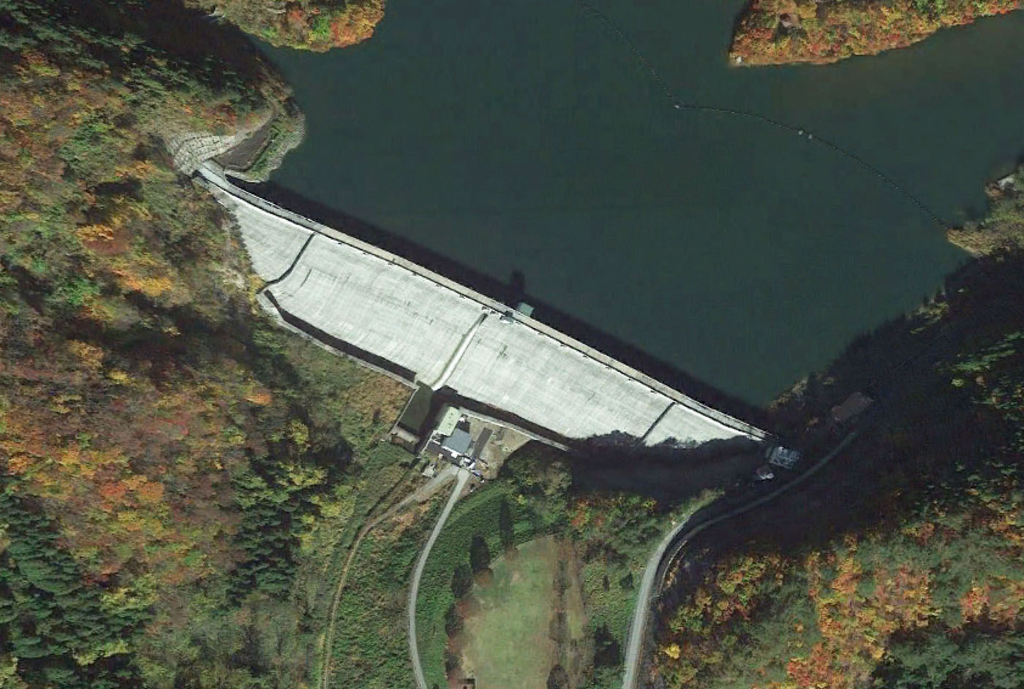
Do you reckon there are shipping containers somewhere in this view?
No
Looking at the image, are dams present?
Yes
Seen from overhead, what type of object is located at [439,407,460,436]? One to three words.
building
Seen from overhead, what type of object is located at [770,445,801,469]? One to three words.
building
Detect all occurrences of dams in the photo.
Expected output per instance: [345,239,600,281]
[195,159,783,456]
